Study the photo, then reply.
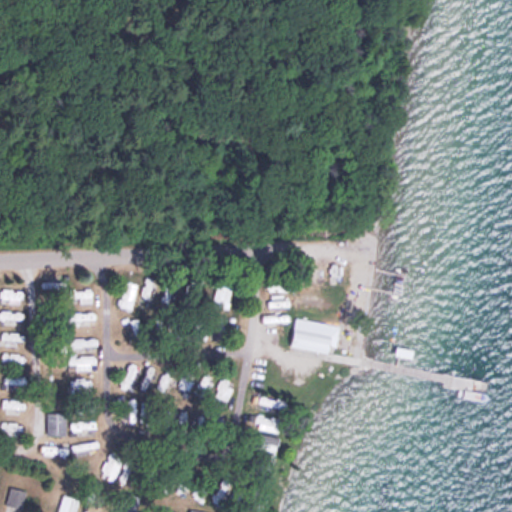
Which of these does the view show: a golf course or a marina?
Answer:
marina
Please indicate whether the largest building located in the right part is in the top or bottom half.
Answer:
bottom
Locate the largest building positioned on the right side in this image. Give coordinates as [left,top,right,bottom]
[292,319,340,355]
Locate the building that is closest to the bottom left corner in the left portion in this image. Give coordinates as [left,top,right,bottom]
[6,486,28,507]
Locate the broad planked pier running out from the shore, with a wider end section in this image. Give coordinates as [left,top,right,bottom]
[361,358,488,392]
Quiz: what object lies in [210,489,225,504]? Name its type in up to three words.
vehicle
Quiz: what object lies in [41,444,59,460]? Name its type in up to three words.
vehicle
